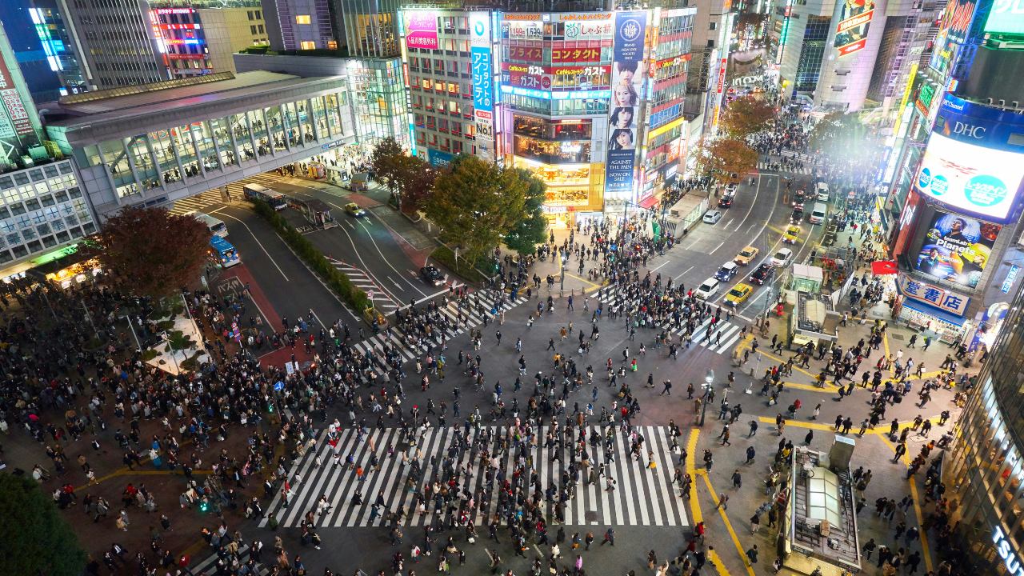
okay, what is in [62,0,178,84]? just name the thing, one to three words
building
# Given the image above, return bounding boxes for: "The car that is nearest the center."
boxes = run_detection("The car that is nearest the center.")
[419,260,446,282]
